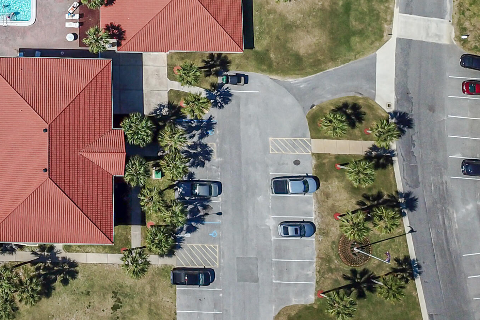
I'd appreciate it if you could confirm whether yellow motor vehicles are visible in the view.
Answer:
No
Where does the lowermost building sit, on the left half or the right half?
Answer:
left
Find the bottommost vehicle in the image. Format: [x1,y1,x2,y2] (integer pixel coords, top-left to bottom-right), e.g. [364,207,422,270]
[171,268,219,290]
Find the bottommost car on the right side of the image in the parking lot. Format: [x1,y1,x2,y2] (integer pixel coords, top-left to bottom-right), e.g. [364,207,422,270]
[278,222,318,241]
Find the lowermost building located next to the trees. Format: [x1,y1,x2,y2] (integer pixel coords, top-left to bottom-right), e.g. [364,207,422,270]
[0,57,126,245]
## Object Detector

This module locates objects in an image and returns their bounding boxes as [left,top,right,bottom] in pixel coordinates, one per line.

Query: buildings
[99,0,244,52]
[0,57,126,245]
